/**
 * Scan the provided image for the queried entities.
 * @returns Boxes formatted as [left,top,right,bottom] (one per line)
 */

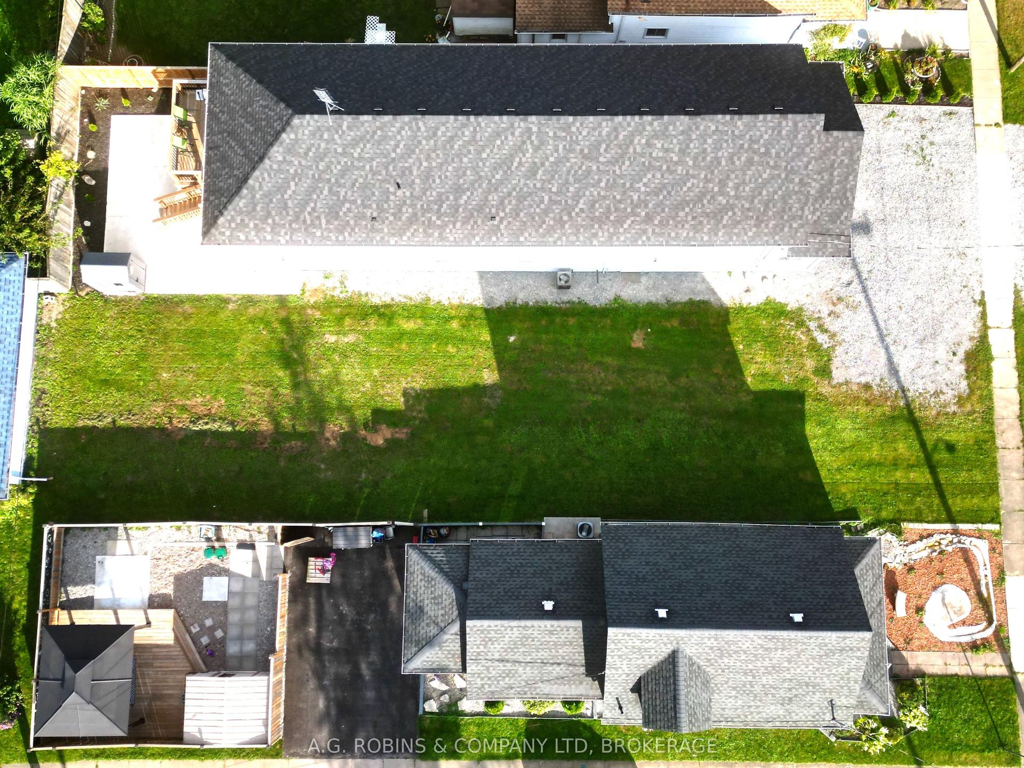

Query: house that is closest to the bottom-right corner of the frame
[401,520,892,734]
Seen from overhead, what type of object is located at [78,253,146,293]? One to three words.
shed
